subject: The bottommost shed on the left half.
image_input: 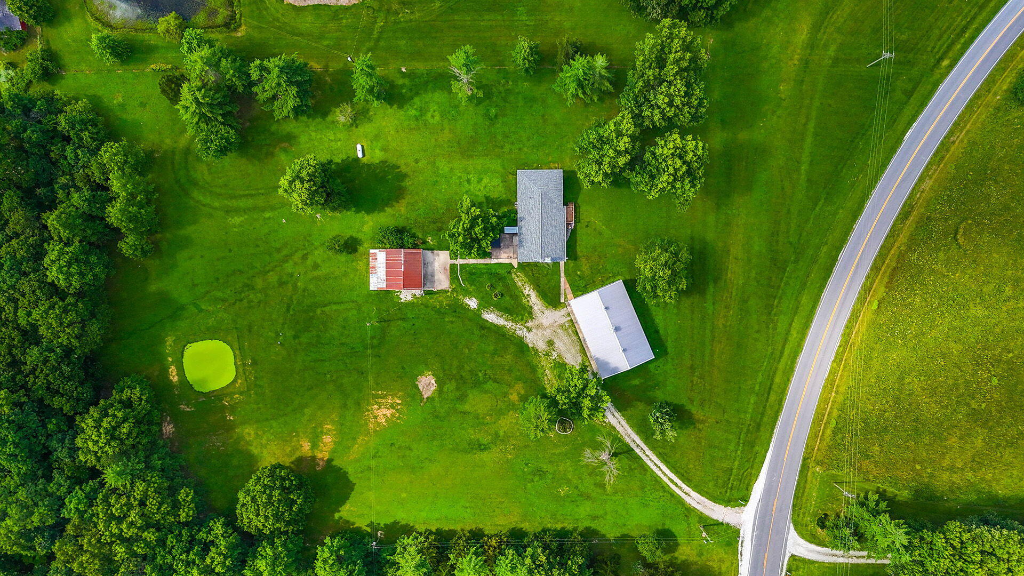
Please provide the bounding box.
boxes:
[370,249,423,290]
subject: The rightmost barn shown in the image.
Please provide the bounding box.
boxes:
[569,280,654,378]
